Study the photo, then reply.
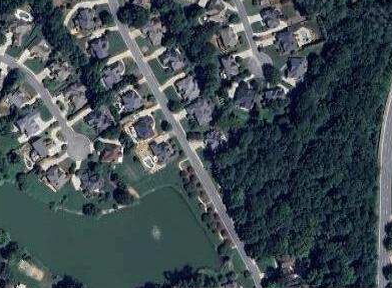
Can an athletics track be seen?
No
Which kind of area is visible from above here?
residential area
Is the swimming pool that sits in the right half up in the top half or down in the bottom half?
top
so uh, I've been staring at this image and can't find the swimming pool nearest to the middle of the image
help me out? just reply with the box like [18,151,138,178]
[142,153,156,170]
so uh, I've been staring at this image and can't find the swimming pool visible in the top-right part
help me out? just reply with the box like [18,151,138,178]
[293,22,316,48]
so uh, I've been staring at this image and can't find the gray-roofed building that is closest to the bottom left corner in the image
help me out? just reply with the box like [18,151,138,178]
[42,159,70,192]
